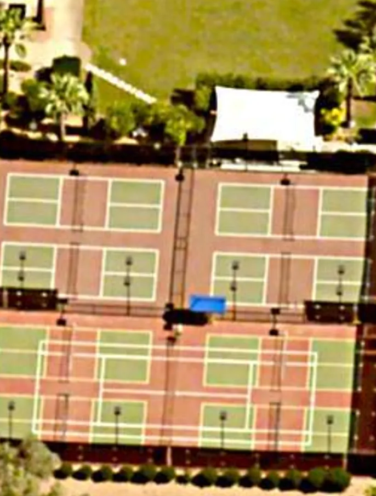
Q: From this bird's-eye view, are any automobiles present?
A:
No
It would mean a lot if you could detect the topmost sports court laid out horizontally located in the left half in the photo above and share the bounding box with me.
[3,174,166,231]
